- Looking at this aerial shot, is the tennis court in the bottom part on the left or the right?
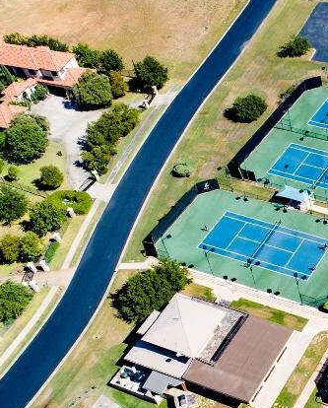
right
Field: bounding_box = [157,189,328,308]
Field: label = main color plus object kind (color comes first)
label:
green tennis court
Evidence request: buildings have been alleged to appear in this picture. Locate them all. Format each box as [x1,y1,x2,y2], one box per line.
[0,42,87,134]
[126,293,295,408]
